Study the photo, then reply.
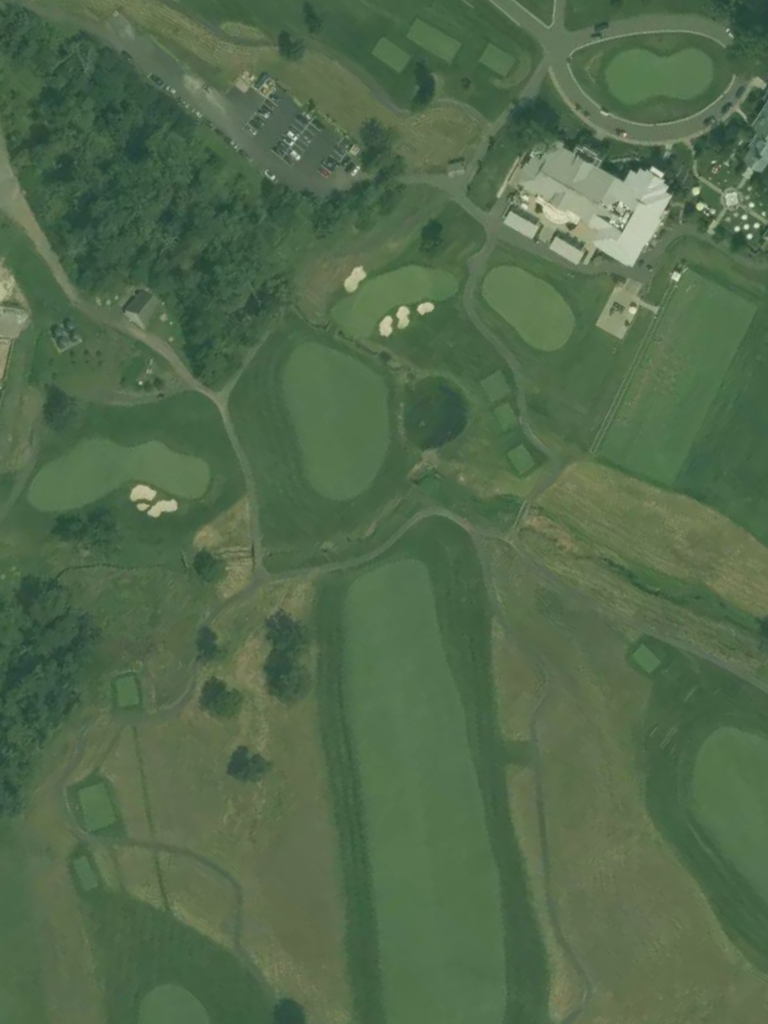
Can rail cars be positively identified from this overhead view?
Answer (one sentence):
No, no rail car is visible in the view.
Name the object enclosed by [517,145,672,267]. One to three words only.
building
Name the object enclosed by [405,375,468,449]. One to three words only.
pond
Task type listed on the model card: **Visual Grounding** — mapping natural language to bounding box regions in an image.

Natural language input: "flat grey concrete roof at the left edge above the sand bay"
[0,307,28,337]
